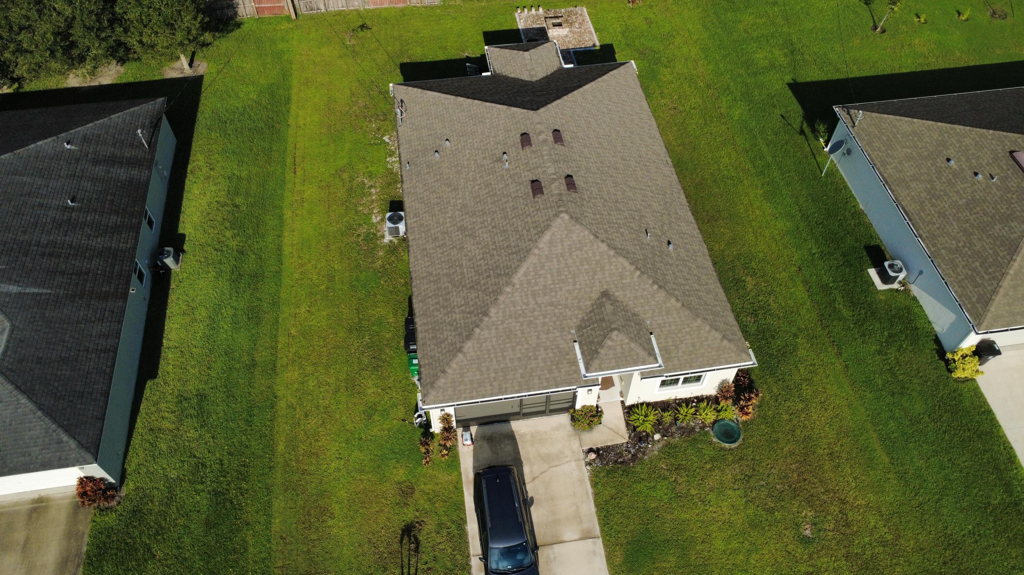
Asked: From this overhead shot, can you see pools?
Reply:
No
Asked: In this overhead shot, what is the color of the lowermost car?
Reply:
black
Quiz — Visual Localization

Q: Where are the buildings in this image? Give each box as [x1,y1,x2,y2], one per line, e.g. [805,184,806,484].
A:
[389,39,759,433]
[824,85,1024,362]
[0,96,177,503]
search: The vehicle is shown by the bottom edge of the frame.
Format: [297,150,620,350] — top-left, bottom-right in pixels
[472,464,539,575]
